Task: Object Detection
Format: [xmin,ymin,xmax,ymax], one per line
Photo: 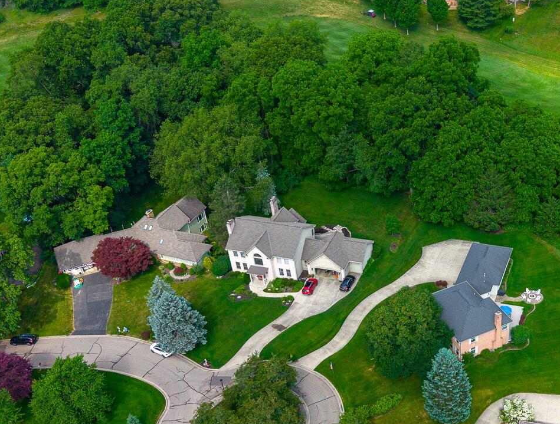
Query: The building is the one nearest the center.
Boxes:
[225,196,373,287]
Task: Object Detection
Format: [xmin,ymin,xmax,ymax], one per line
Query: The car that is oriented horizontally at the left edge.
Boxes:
[8,328,37,344]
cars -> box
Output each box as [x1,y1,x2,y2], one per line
[300,275,319,294]
[147,341,173,357]
[336,273,357,292]
[8,328,37,344]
